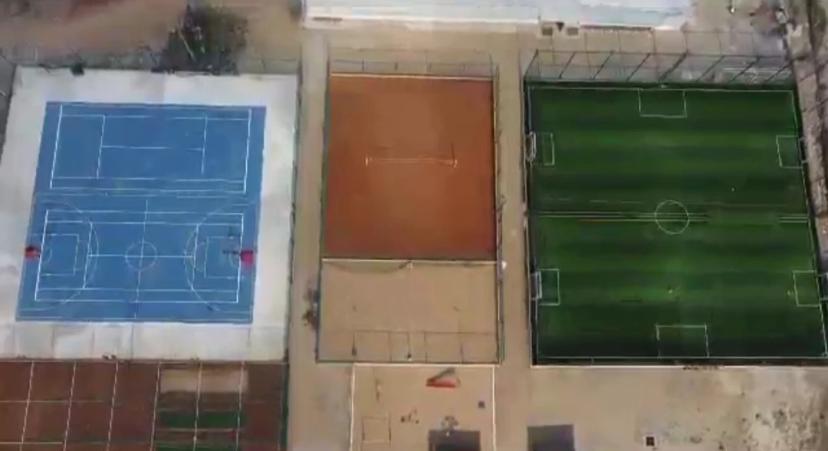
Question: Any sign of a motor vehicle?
No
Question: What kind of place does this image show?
sports ground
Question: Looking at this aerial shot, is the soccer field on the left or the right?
right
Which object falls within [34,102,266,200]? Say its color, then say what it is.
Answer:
blue tennis court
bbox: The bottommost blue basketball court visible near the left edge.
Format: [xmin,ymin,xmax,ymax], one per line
[18,196,260,324]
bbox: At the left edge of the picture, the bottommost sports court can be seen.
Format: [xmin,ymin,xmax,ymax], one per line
[0,359,286,451]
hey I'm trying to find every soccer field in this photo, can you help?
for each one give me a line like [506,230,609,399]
[522,78,828,369]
